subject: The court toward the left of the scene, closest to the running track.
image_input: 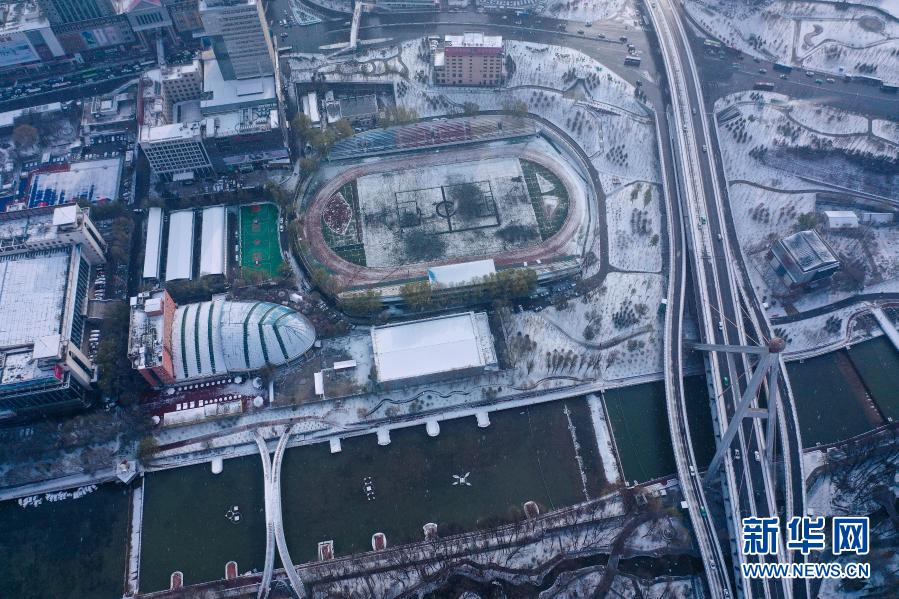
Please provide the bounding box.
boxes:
[239,200,286,280]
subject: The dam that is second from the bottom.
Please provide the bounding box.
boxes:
[587,391,627,484]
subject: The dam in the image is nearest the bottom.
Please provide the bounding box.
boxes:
[124,473,146,599]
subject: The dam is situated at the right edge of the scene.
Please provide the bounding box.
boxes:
[838,351,887,429]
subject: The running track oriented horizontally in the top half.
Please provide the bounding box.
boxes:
[306,152,587,274]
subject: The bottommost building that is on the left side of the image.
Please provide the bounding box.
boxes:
[116,458,140,485]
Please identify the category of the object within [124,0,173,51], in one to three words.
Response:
building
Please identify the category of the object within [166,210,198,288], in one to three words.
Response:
shed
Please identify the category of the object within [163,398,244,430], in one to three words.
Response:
building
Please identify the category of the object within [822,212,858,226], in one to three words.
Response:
shed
